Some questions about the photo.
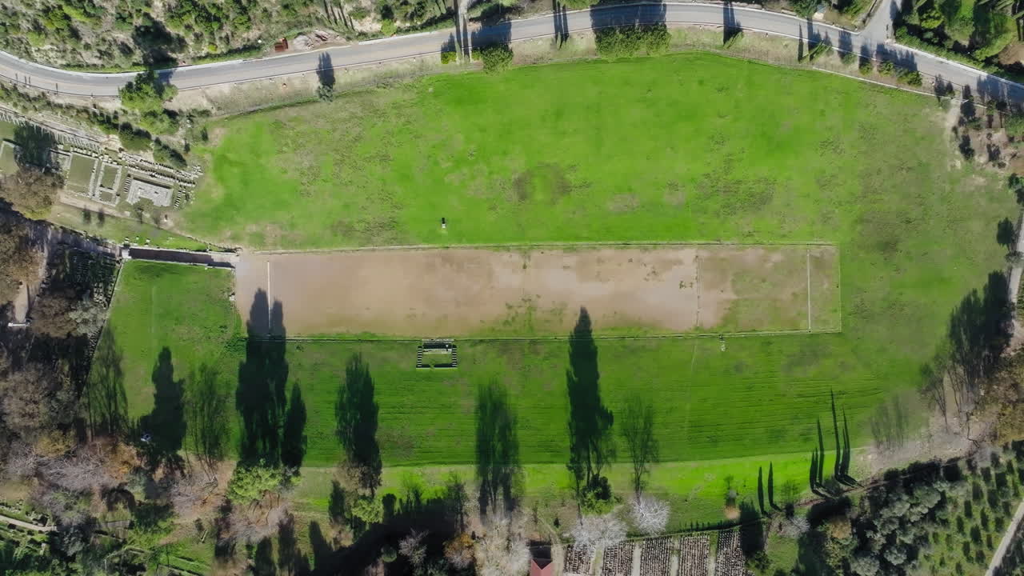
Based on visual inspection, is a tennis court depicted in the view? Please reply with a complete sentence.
No, the photo shows no tennis court.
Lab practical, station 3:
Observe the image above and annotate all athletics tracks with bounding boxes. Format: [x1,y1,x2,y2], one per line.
[243,244,840,339]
